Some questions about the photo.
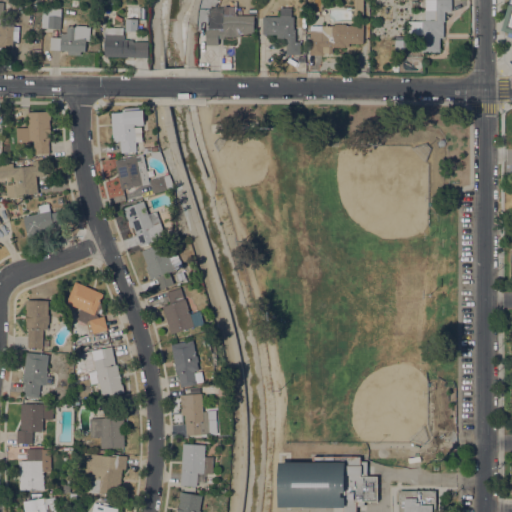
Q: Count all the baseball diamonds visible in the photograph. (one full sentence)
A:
In total, there are 3 baseball diamonds in the scene.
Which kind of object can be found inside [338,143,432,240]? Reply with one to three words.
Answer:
baseball field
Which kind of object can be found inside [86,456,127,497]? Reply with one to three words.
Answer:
house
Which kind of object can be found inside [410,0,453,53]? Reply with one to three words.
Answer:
building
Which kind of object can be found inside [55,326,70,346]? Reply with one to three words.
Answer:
swimming pool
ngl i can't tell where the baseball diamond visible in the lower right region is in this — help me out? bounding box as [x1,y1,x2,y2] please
[353,362,431,444]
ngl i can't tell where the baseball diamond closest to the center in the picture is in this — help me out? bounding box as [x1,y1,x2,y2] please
[214,137,269,188]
